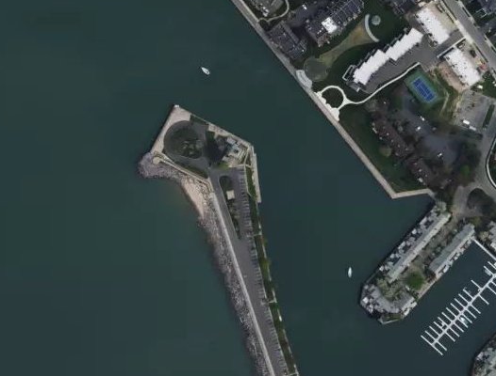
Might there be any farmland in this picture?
No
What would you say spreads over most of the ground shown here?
water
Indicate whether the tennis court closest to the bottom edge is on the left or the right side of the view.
right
